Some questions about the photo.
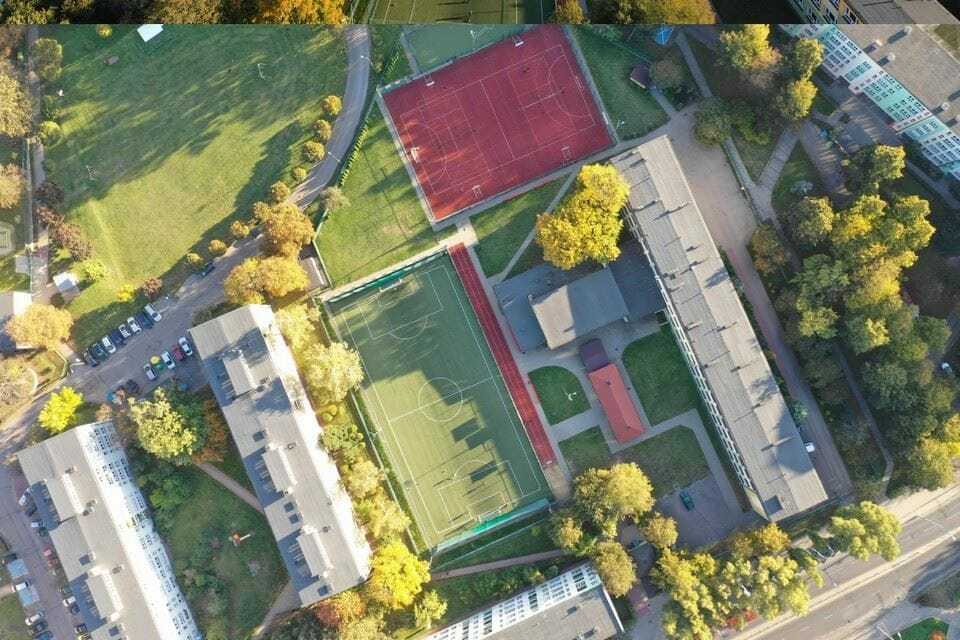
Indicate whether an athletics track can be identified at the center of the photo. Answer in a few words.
Yes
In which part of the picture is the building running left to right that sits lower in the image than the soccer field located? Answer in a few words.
bottom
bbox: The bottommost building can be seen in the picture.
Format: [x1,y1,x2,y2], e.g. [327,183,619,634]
[445,559,634,640]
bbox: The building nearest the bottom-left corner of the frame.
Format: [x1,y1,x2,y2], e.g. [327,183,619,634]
[16,422,198,640]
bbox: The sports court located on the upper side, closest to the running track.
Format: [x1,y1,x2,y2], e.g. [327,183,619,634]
[382,24,618,222]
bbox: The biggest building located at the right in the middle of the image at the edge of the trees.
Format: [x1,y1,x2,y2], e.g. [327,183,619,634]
[606,134,822,522]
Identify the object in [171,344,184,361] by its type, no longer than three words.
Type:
vehicle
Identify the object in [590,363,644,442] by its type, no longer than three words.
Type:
building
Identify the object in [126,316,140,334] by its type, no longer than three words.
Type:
car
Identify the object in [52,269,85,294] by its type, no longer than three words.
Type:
shed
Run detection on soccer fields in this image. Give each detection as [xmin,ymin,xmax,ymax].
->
[327,253,549,549]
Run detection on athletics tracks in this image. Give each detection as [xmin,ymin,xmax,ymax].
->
[449,241,556,466]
